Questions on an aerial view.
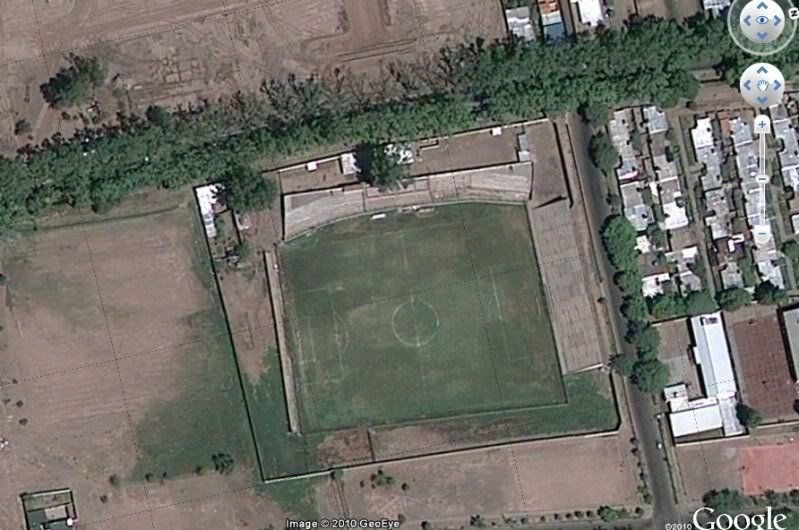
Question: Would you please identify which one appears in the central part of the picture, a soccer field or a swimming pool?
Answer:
soccer field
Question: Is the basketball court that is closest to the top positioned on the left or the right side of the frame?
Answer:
right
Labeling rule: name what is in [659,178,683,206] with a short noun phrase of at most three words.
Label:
house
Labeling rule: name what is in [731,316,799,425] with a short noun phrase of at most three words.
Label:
basketball court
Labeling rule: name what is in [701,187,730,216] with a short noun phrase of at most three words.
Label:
house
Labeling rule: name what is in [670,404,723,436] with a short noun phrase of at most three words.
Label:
building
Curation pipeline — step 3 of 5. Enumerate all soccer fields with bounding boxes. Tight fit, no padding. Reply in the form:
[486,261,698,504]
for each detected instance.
[283,202,566,434]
